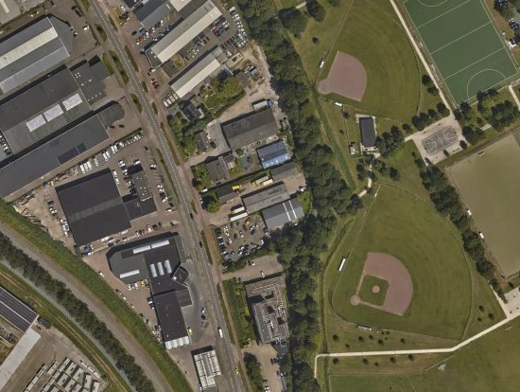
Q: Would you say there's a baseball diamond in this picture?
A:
Yes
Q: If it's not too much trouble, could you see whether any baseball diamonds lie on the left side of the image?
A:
No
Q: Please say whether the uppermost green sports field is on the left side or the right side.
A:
right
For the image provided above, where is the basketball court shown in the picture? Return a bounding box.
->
[422,126,459,155]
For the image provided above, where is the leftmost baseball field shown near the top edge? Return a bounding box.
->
[317,0,422,116]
